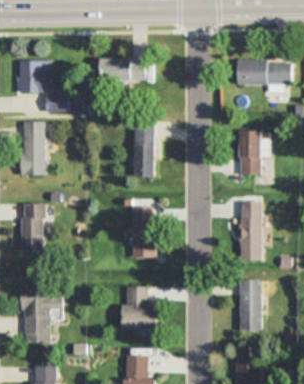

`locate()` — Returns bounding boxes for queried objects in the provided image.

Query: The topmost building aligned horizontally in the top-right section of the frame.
[234,59,293,86]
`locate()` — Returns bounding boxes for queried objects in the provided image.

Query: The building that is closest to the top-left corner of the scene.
[18,60,73,114]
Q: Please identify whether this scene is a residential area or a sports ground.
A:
residential area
